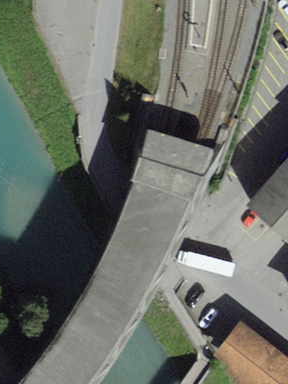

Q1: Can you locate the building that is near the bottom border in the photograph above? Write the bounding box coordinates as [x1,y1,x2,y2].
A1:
[210,322,288,384]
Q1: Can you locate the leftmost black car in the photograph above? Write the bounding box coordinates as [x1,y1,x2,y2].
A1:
[188,284,204,307]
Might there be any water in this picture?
Yes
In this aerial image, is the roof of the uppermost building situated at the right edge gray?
Yes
